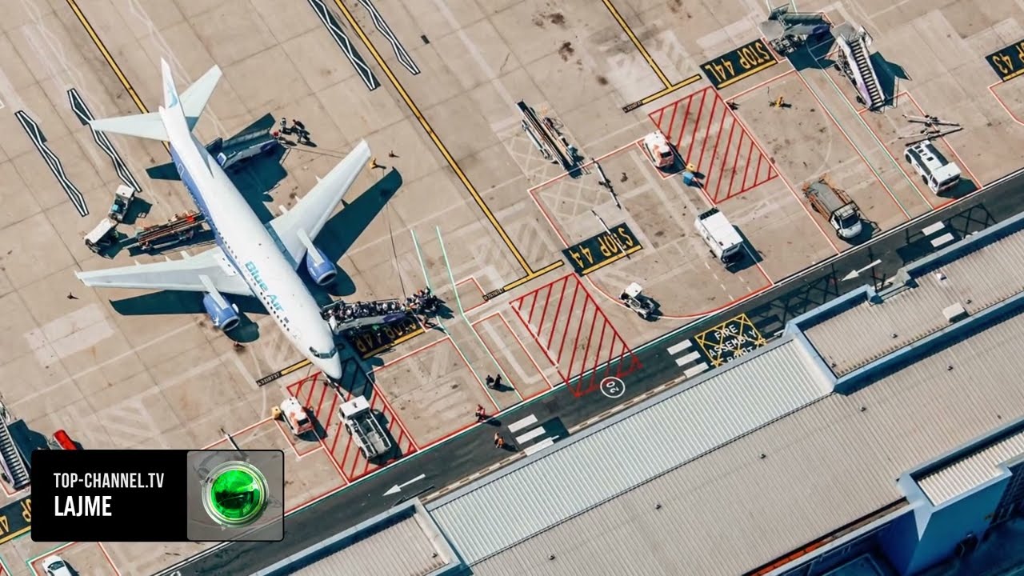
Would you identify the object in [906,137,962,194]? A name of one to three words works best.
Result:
vehicle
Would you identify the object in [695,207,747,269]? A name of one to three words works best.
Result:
van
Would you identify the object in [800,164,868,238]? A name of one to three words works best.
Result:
truck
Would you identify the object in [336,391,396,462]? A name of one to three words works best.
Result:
work vehicle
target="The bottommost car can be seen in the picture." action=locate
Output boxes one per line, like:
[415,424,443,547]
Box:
[43,552,77,576]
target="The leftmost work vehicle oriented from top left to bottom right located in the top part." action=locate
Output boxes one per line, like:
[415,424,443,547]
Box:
[517,106,580,170]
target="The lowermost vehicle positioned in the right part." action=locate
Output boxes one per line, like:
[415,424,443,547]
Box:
[616,279,648,323]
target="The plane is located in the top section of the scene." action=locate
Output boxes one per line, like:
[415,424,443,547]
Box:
[73,58,369,380]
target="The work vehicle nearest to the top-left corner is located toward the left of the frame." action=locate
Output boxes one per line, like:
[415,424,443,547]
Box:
[102,185,133,227]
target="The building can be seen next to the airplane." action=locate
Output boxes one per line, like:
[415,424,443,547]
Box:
[254,212,1024,576]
